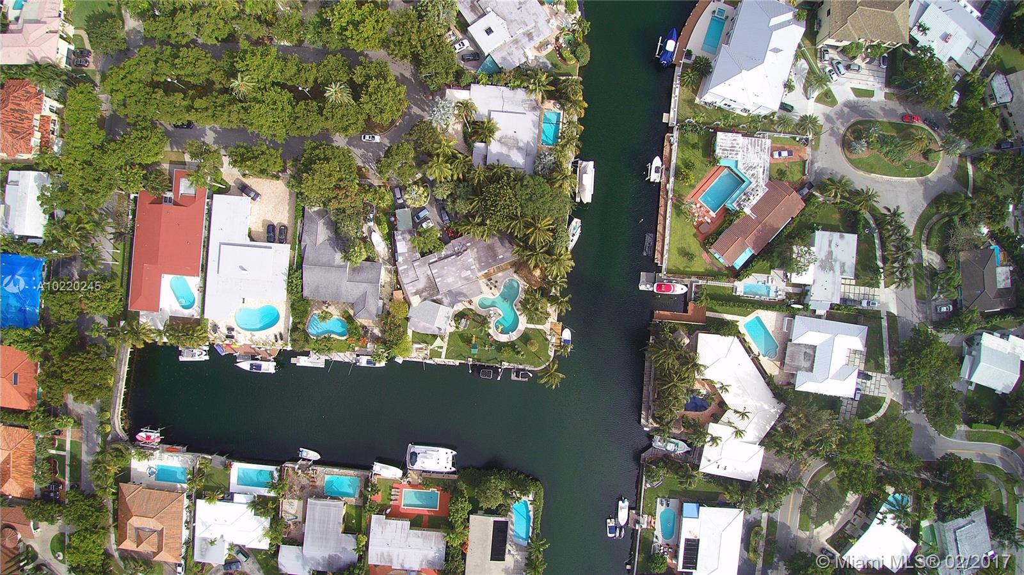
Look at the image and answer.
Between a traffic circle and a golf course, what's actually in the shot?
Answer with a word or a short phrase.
traffic circle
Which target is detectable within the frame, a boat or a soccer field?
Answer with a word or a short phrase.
boat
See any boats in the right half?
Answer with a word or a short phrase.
Yes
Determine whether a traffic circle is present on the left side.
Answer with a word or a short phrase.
No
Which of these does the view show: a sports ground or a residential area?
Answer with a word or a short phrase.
residential area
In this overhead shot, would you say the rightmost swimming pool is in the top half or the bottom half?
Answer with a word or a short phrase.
bottom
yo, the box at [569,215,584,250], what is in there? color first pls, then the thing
white boat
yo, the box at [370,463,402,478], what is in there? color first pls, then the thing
white boat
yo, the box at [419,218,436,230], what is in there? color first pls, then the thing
white vehicle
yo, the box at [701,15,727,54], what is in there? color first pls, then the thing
blue swimming pool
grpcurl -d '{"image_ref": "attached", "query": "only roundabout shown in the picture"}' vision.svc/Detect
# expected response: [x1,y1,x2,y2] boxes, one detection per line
[844,122,941,176]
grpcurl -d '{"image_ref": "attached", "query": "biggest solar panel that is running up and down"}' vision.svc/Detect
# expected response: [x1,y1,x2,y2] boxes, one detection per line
[489,520,509,562]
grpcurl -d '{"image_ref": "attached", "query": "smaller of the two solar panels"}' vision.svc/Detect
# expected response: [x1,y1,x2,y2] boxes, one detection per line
[682,538,699,569]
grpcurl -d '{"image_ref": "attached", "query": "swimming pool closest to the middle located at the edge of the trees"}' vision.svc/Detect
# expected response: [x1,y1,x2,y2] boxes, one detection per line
[477,275,522,336]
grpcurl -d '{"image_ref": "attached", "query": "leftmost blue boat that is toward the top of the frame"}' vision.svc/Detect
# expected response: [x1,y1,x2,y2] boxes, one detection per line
[656,29,676,69]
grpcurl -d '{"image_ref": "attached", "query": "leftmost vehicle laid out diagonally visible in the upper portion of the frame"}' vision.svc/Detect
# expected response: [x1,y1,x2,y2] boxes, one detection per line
[238,181,260,200]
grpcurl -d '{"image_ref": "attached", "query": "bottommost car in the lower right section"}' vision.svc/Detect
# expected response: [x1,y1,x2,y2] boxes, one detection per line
[818,545,838,561]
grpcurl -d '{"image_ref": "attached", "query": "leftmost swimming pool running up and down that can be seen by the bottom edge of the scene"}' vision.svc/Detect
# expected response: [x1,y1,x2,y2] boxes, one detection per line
[511,498,532,547]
